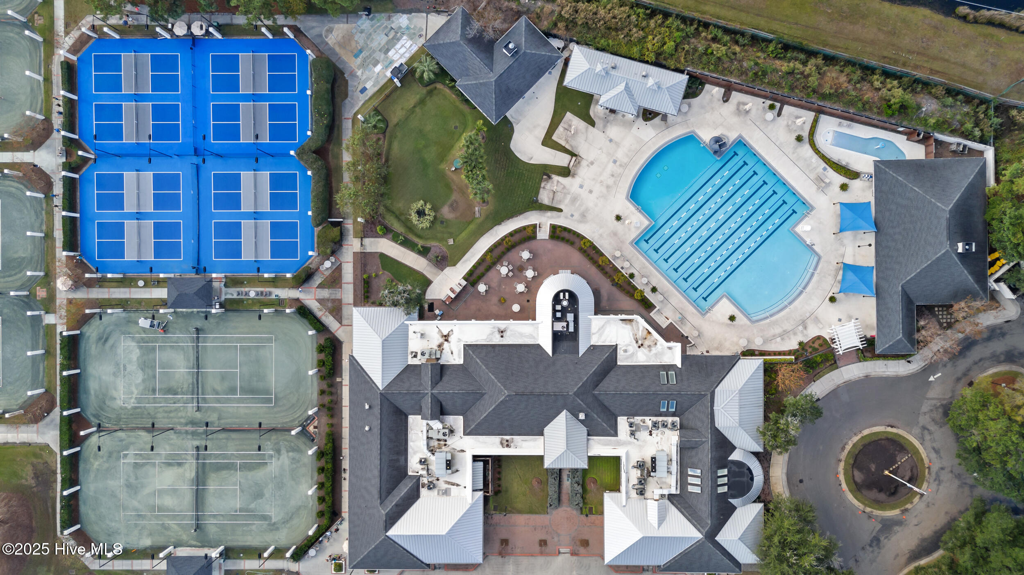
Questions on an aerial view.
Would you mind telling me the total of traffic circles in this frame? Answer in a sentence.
The photo contains exactly 1 traffic circle.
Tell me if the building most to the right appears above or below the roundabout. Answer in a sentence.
The position of the building most to the right is above the roundabout.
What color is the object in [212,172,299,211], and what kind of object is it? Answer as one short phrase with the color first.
blue sports court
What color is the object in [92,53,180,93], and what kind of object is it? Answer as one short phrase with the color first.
blue sports court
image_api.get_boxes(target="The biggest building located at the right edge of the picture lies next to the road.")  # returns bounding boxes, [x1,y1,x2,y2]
[869,157,989,354]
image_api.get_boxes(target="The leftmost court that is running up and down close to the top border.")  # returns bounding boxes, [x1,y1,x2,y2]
[0,20,43,134]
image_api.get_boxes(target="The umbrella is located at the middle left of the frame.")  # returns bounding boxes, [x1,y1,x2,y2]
[58,274,77,292]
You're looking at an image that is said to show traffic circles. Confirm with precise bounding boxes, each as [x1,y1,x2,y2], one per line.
[839,427,929,516]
